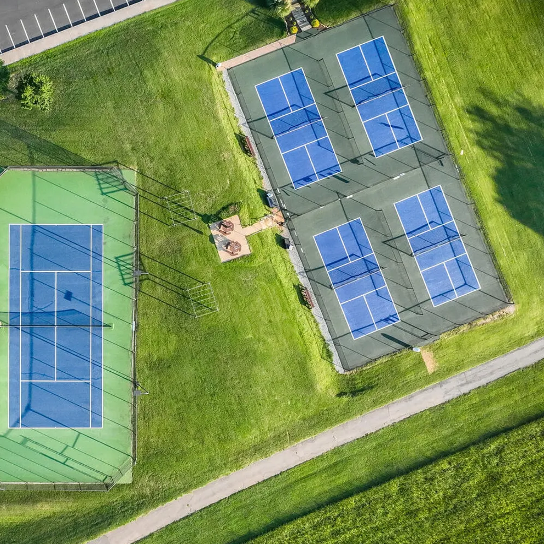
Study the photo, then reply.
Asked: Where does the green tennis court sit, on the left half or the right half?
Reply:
left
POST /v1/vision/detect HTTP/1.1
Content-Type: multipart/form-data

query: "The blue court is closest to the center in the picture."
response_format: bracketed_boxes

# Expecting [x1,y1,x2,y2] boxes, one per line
[313,217,402,340]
